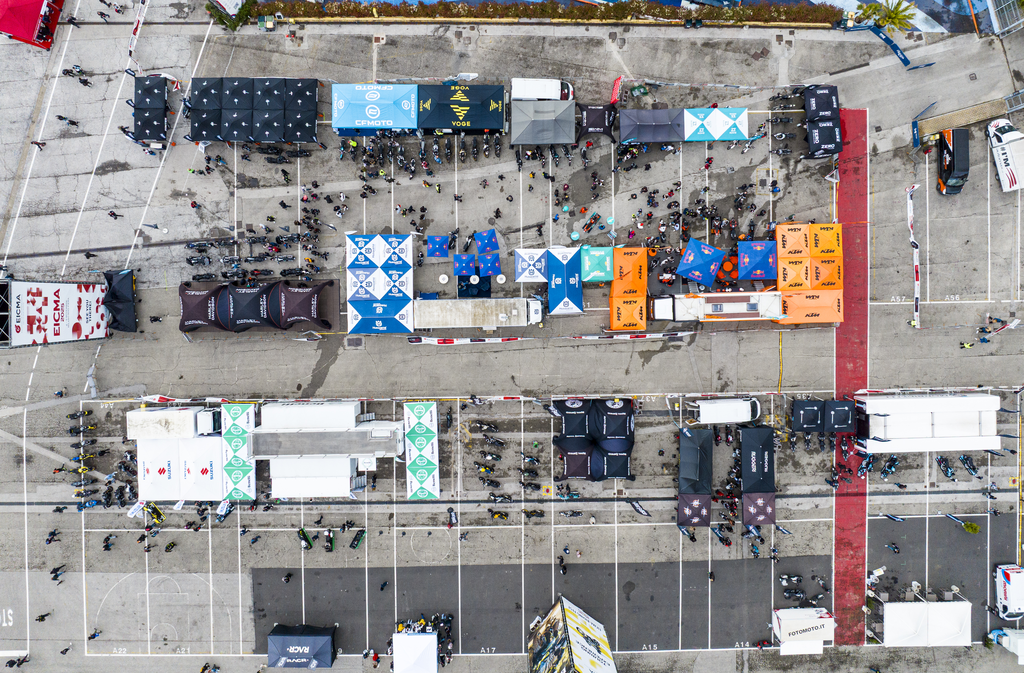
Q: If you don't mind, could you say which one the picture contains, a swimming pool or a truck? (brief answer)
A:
truck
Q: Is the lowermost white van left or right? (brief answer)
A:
right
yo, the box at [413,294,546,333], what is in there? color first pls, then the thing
white truck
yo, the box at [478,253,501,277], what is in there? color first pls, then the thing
blue umbrella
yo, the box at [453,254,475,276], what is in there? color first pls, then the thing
blue umbrella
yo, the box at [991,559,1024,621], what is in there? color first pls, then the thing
white van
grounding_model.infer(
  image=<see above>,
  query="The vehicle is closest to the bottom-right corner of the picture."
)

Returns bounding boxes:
[988,628,1024,662]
